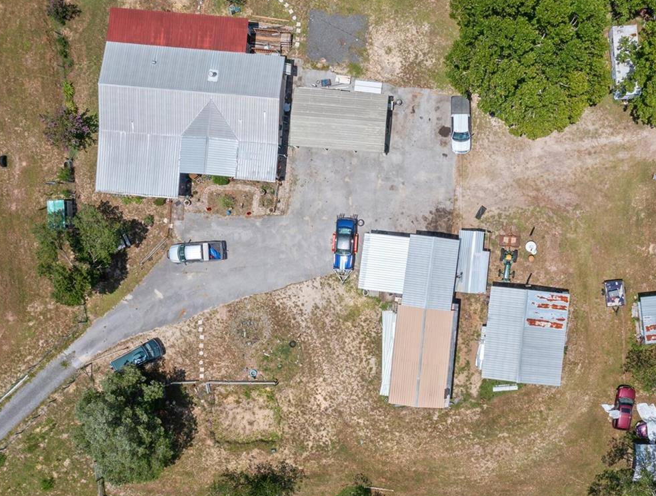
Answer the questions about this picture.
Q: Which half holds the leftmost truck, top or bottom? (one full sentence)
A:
The leftmost truck sits in the bottom half of the picture.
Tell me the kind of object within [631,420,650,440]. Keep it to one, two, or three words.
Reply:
car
